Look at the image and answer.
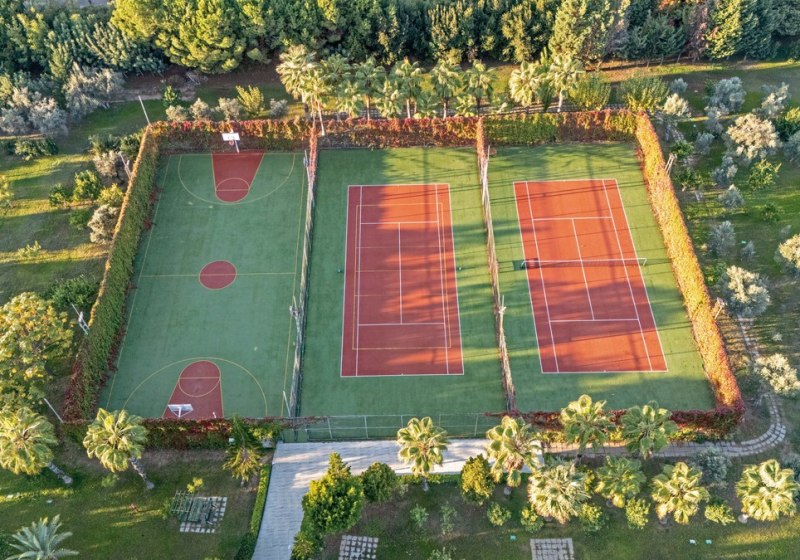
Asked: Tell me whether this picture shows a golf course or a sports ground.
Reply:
sports ground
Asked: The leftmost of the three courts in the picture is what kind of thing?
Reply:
basketball court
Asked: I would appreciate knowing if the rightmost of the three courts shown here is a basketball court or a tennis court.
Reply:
tennis court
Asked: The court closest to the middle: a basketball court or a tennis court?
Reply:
tennis court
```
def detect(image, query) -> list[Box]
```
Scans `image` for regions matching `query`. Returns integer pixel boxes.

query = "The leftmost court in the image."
[90,149,318,441]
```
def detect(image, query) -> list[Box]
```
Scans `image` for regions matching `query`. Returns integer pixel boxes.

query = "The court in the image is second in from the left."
[295,144,518,441]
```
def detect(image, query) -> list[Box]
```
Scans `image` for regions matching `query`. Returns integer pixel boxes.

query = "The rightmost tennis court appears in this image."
[484,141,717,430]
